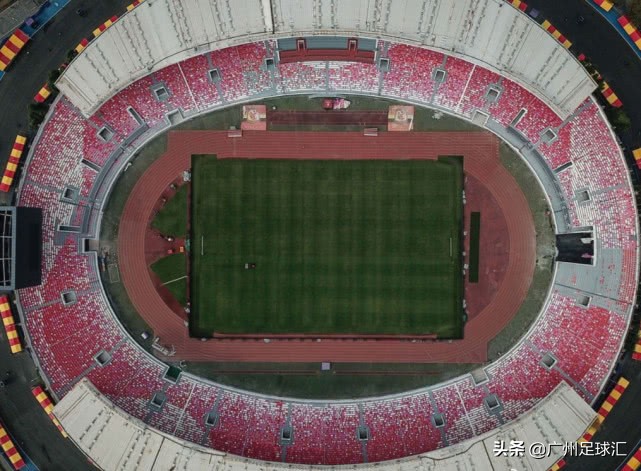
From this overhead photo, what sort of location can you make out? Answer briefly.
sports ground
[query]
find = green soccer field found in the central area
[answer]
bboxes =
[190,154,464,339]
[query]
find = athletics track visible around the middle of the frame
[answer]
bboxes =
[118,131,536,363]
